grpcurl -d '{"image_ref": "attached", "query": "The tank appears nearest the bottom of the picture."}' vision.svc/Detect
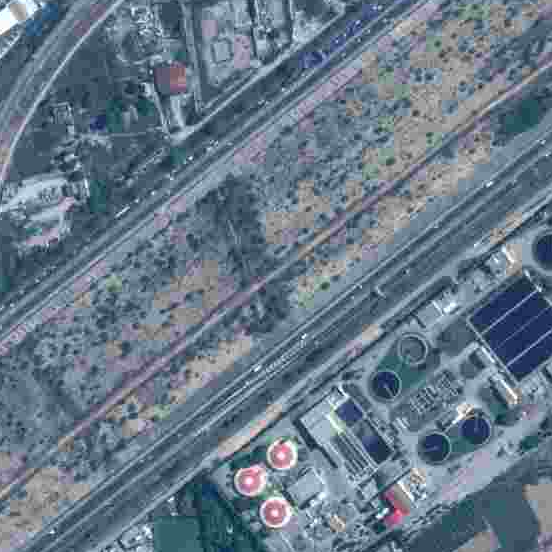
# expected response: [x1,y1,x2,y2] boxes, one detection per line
[258,498,291,529]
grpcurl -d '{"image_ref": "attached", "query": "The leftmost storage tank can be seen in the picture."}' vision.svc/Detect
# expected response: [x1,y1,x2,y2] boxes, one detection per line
[233,464,264,497]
